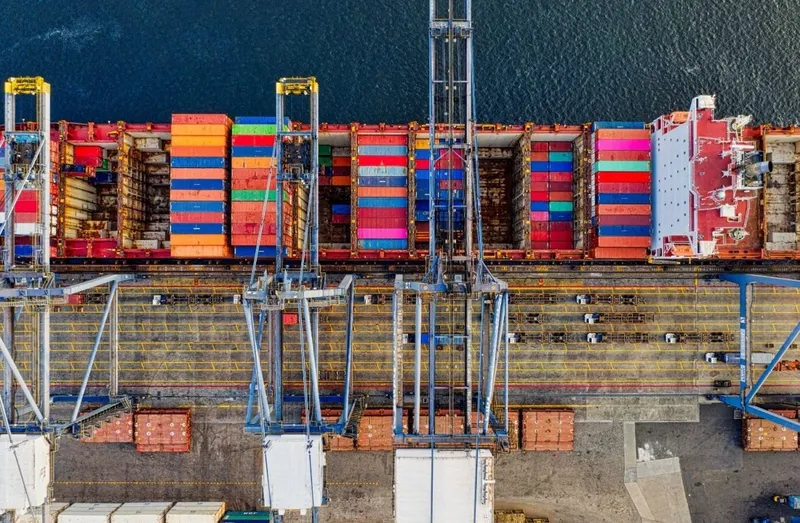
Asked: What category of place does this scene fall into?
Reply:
port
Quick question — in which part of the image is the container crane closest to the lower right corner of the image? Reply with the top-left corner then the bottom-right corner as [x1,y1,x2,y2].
[708,273,800,439]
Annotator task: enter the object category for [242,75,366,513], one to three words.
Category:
container crane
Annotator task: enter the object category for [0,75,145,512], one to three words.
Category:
container crane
